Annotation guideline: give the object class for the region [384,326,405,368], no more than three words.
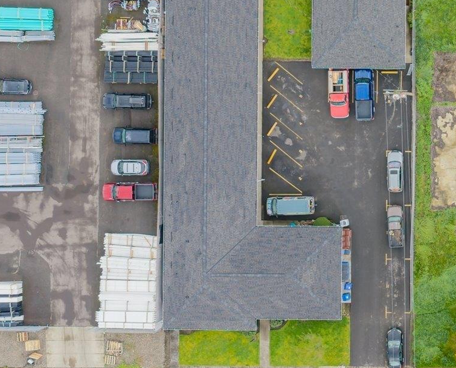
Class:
car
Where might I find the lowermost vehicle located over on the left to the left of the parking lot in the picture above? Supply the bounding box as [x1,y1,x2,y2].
[102,181,158,204]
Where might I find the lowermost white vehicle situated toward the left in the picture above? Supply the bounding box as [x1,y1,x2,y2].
[111,157,153,178]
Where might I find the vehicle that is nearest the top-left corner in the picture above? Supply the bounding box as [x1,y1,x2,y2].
[0,76,36,97]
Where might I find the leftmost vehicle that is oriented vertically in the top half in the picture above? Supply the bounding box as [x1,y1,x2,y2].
[328,69,350,120]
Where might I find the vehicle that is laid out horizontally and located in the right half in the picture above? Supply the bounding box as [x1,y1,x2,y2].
[266,196,317,219]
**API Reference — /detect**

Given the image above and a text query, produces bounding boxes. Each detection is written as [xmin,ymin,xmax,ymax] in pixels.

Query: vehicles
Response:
[112,126,158,146]
[0,76,36,97]
[385,205,405,250]
[111,157,153,178]
[352,69,375,121]
[328,69,350,120]
[384,326,405,368]
[102,181,158,204]
[266,196,317,219]
[103,89,155,112]
[384,151,405,194]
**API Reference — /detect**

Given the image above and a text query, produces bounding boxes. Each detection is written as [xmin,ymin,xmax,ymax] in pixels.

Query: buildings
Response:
[165,0,343,331]
[311,0,408,69]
